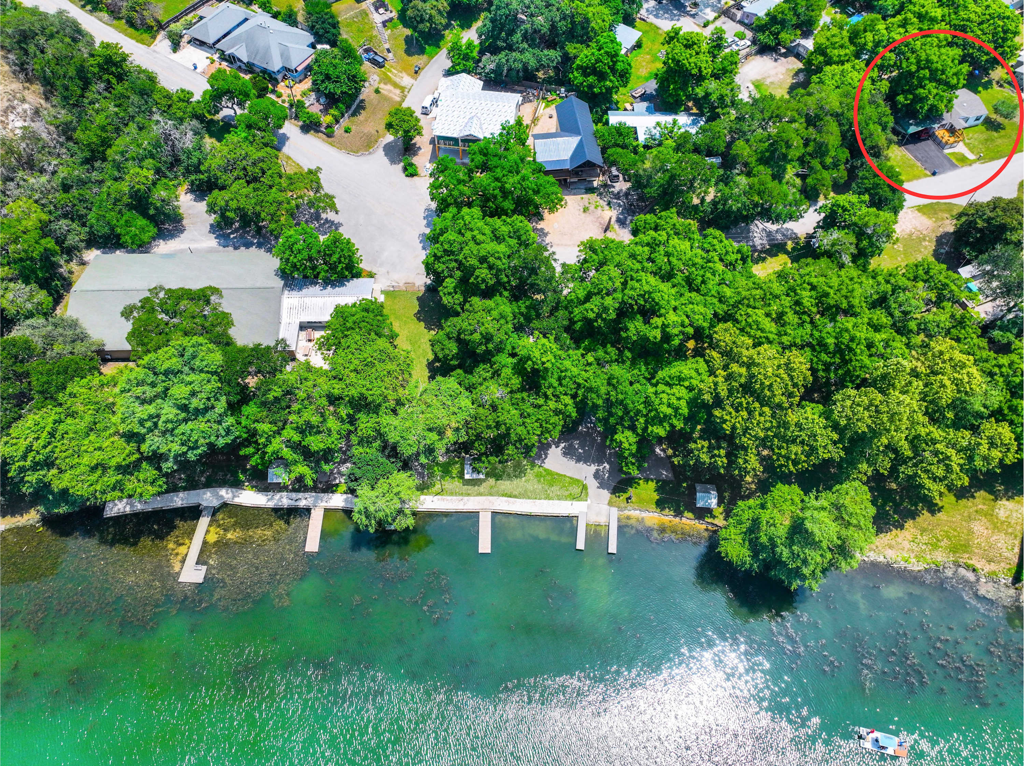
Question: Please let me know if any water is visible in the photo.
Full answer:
Yes, there's water in this view.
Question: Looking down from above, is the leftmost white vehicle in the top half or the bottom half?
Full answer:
You can find the leftmost white vehicle in the top half.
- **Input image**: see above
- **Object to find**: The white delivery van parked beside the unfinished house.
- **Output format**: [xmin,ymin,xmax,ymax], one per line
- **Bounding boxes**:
[418,93,440,116]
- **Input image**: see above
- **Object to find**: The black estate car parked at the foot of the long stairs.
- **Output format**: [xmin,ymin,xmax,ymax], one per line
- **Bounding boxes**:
[365,51,389,68]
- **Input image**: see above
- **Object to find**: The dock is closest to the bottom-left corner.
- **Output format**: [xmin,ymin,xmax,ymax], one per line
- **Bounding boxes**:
[178,507,217,584]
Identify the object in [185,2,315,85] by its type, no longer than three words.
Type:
house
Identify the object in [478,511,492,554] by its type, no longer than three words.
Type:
pier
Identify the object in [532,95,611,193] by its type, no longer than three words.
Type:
house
